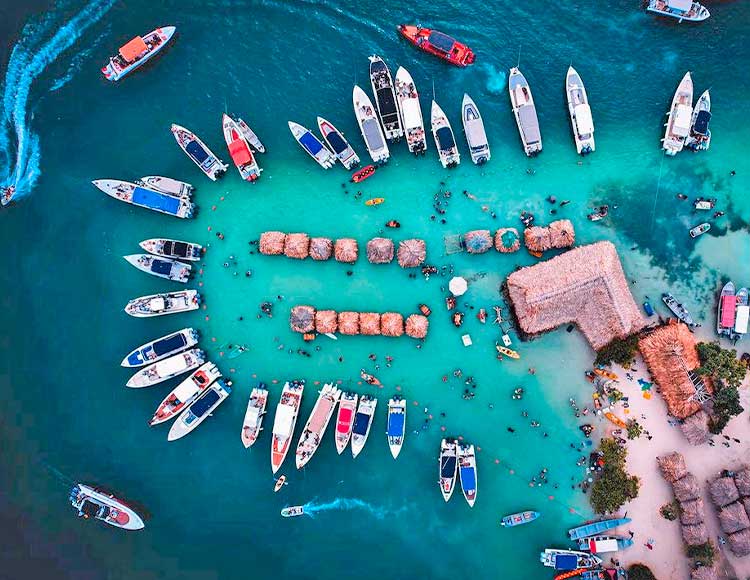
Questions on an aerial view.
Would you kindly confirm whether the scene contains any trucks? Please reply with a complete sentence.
No, this view has no truck in it.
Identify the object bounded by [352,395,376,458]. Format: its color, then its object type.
white boat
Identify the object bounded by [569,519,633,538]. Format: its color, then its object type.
blue boat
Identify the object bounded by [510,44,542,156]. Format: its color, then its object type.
white boat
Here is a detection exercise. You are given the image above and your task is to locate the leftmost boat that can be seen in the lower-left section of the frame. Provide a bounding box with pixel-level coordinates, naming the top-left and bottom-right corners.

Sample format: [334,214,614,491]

[74,488,146,527]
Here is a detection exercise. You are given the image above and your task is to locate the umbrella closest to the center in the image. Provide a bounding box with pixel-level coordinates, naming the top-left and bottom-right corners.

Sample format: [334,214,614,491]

[449,277,467,295]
